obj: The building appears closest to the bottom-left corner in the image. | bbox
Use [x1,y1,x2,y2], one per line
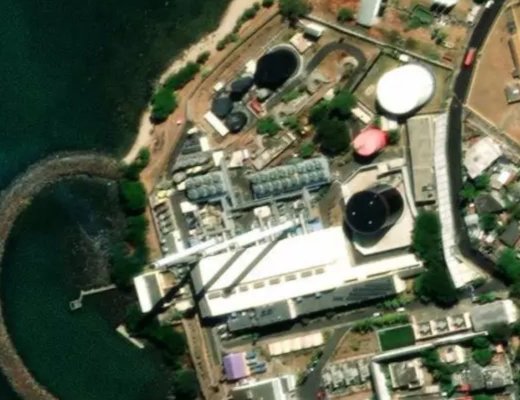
[134,271,171,313]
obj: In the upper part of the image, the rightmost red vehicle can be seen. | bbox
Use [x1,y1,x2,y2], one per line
[463,48,476,66]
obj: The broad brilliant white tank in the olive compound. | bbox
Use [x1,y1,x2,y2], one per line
[378,60,437,115]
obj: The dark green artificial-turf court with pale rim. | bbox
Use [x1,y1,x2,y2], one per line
[377,323,416,352]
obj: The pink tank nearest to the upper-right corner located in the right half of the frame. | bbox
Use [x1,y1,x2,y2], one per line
[354,125,389,156]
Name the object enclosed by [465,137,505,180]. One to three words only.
house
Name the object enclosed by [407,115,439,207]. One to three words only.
building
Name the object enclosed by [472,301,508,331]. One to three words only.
building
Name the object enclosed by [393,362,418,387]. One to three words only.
house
